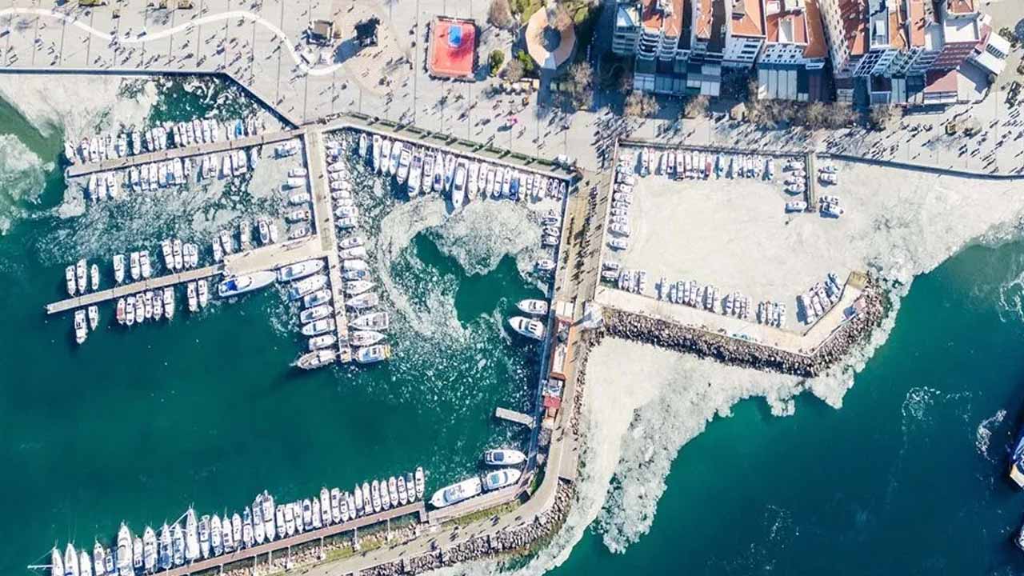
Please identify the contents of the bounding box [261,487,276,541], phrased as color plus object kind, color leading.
white boat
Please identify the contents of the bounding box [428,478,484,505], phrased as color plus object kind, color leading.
white boat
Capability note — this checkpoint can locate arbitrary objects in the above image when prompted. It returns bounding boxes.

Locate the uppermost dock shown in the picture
[66,130,309,179]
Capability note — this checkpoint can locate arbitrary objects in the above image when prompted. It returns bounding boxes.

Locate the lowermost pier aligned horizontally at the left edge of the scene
[46,263,225,314]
